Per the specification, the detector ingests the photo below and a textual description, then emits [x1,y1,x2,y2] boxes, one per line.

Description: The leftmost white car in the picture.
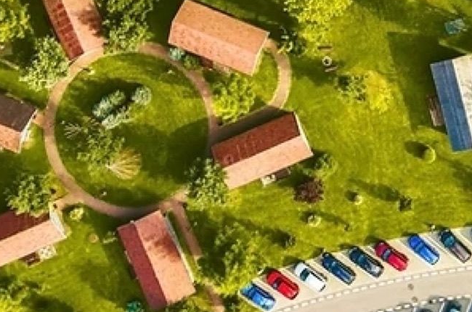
[290,259,331,297]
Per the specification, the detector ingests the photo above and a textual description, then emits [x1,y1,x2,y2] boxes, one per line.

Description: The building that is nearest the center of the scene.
[211,111,312,189]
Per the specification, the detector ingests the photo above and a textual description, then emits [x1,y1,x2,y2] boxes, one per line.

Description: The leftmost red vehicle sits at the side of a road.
[264,268,302,302]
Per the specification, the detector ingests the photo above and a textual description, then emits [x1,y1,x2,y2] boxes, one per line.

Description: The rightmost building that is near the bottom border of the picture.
[117,209,197,311]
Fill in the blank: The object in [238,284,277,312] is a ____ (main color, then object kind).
blue car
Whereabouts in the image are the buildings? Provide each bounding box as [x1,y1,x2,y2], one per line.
[0,91,43,154]
[43,0,110,61]
[211,111,312,189]
[0,194,71,267]
[117,209,197,311]
[168,2,269,76]
[429,54,472,152]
